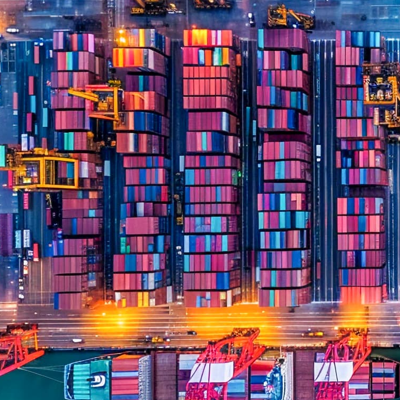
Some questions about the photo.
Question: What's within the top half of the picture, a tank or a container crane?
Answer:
container crane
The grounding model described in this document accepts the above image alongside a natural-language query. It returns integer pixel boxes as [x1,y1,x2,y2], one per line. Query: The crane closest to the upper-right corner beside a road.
[364,66,400,141]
